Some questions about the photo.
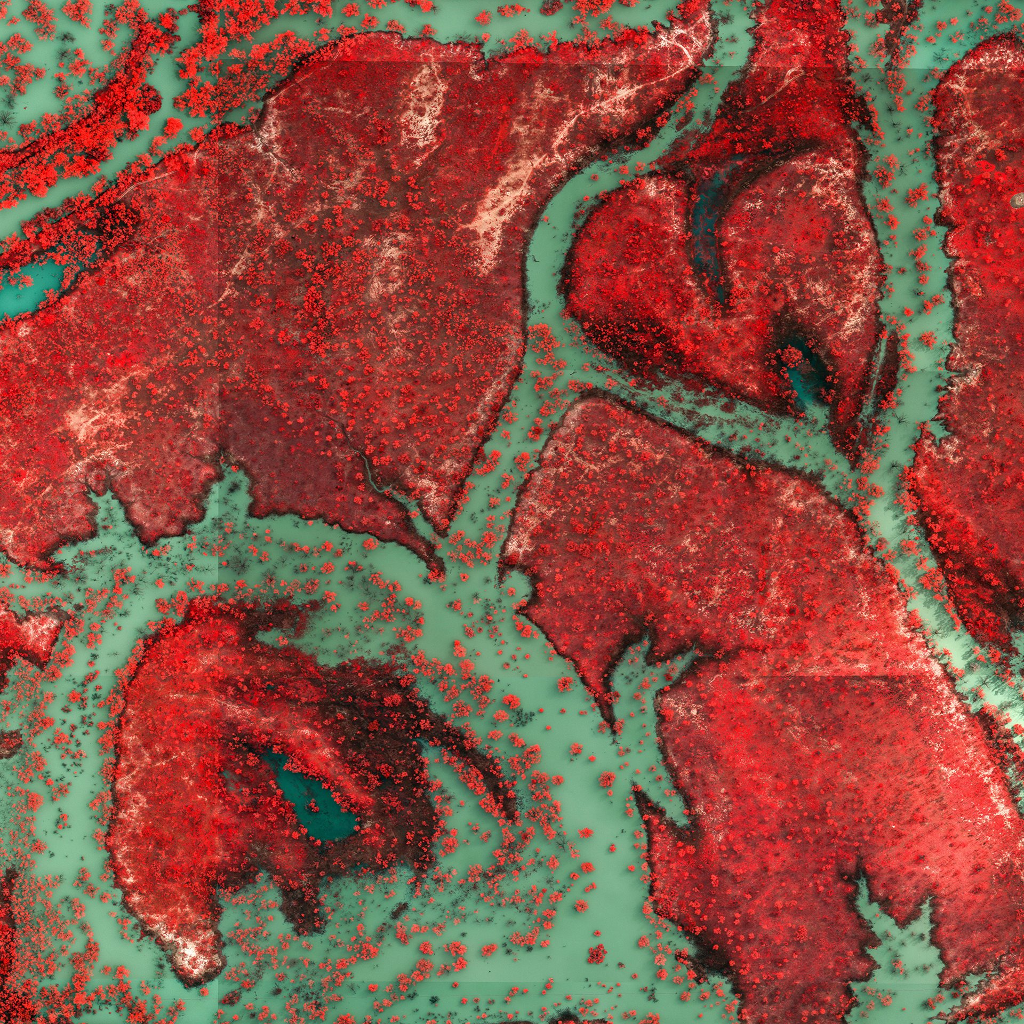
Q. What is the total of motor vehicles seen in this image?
none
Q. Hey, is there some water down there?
Yes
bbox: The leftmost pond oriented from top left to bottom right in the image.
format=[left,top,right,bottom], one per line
[263,748,359,843]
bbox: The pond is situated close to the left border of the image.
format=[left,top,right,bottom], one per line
[0,227,108,321]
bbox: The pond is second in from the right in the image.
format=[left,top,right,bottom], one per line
[697,156,738,301]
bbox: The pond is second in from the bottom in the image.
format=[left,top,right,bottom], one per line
[783,333,831,414]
